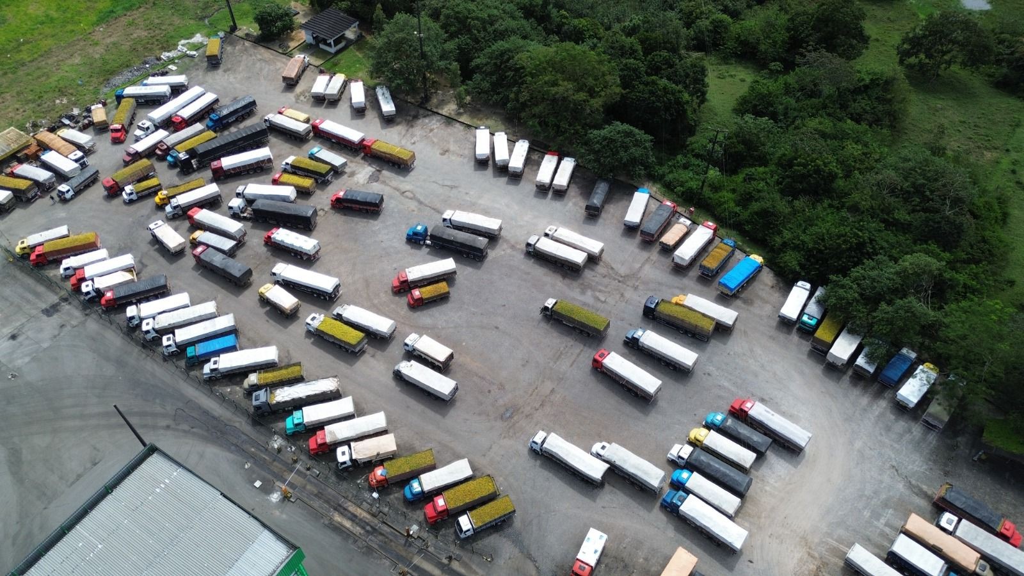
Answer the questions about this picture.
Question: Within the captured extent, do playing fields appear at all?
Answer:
No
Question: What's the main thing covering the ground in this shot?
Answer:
paved ground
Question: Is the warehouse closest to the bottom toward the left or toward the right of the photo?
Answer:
left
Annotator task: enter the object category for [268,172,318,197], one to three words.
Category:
truck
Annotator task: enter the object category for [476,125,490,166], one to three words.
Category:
vehicle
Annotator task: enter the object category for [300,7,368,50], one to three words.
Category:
house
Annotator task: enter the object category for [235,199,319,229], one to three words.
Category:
truck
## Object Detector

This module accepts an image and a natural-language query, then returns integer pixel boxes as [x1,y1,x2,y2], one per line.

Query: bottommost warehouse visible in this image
[0,443,307,576]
